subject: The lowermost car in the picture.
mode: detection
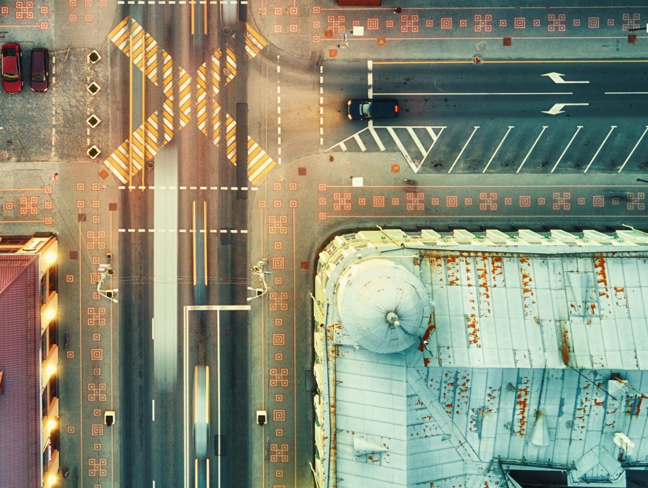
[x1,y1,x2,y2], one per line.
[193,463,213,488]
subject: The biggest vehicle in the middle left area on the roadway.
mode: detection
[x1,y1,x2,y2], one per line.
[153,148,180,328]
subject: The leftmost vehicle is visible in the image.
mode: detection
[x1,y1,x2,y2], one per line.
[0,43,23,93]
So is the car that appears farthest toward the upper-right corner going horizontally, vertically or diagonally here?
horizontally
